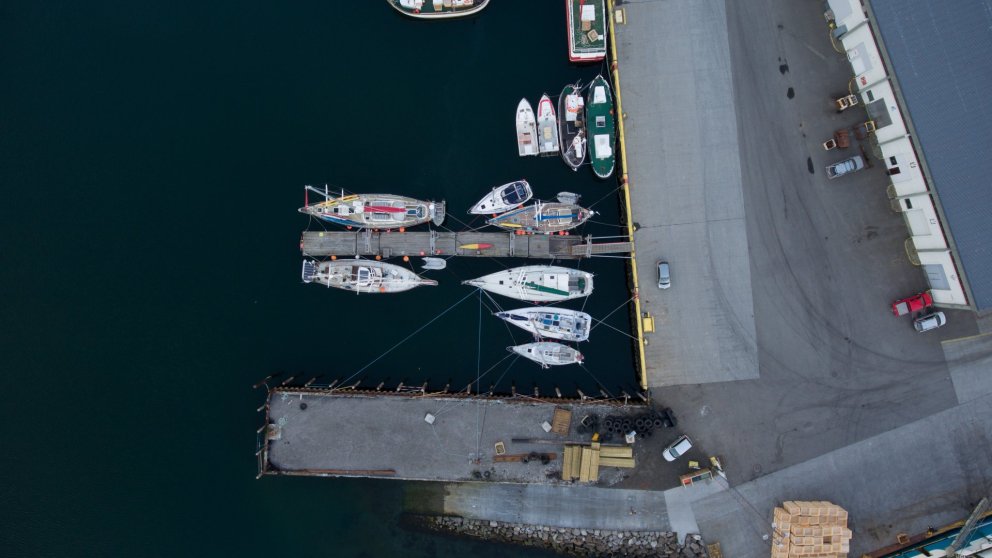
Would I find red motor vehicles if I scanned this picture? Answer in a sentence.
Yes, the photo shows a red motor vehicle.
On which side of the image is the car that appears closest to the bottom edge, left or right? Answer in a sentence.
It is on the right.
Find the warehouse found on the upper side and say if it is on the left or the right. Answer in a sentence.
The warehouse found on the upper side is on the right side of the image.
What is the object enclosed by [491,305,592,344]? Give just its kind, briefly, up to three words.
boat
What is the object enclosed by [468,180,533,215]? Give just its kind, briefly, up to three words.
boat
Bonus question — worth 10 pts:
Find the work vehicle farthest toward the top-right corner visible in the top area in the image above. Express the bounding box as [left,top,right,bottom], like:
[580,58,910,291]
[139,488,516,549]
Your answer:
[838,95,859,108]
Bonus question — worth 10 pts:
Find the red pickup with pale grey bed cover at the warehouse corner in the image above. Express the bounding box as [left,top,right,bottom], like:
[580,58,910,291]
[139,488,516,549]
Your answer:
[894,292,935,314]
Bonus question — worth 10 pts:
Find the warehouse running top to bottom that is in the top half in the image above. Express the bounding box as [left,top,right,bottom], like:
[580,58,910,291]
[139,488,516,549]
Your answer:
[830,0,992,311]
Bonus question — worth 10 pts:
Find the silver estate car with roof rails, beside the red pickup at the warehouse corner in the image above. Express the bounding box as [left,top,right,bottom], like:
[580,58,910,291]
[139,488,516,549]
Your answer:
[914,313,948,332]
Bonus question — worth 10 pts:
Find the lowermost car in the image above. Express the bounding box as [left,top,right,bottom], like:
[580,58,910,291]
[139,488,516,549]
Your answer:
[664,437,694,461]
